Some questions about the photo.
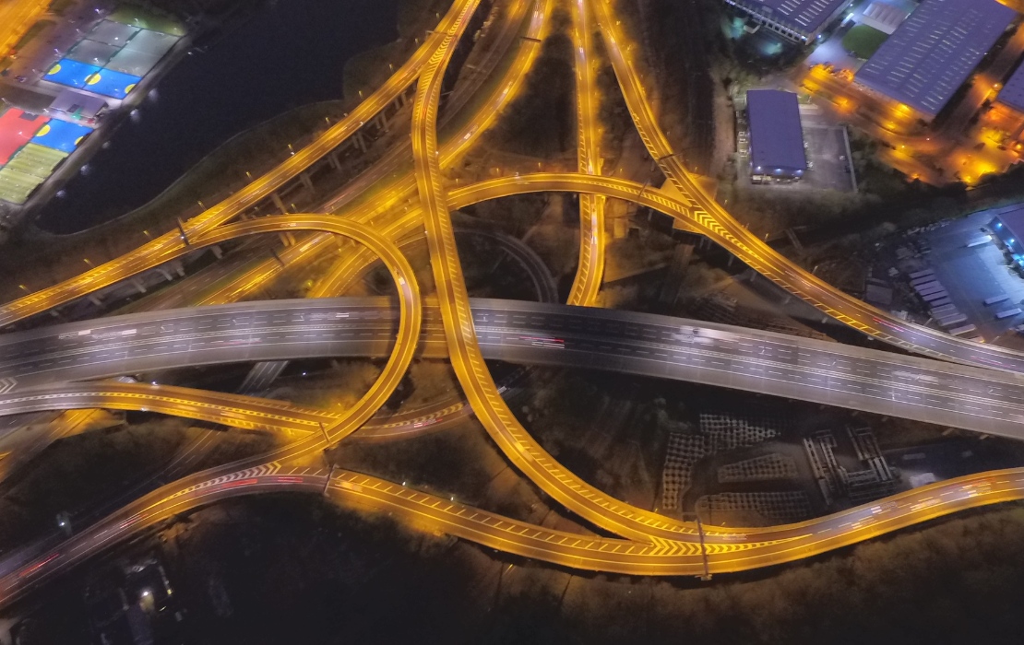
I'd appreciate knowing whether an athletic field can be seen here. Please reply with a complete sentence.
Yes, there's an athletic field down there.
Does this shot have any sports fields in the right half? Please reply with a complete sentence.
No, I can find no sports field in the right half.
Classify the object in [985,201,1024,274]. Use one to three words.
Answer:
building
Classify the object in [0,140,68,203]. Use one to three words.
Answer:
sports field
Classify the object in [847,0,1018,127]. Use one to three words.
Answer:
warehouse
